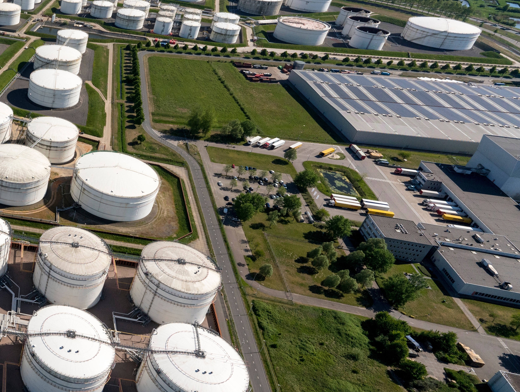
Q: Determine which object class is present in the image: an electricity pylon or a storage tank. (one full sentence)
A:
It is a storage tank that can be seen here.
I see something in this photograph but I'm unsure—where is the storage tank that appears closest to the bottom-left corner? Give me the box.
[17,305,117,392]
